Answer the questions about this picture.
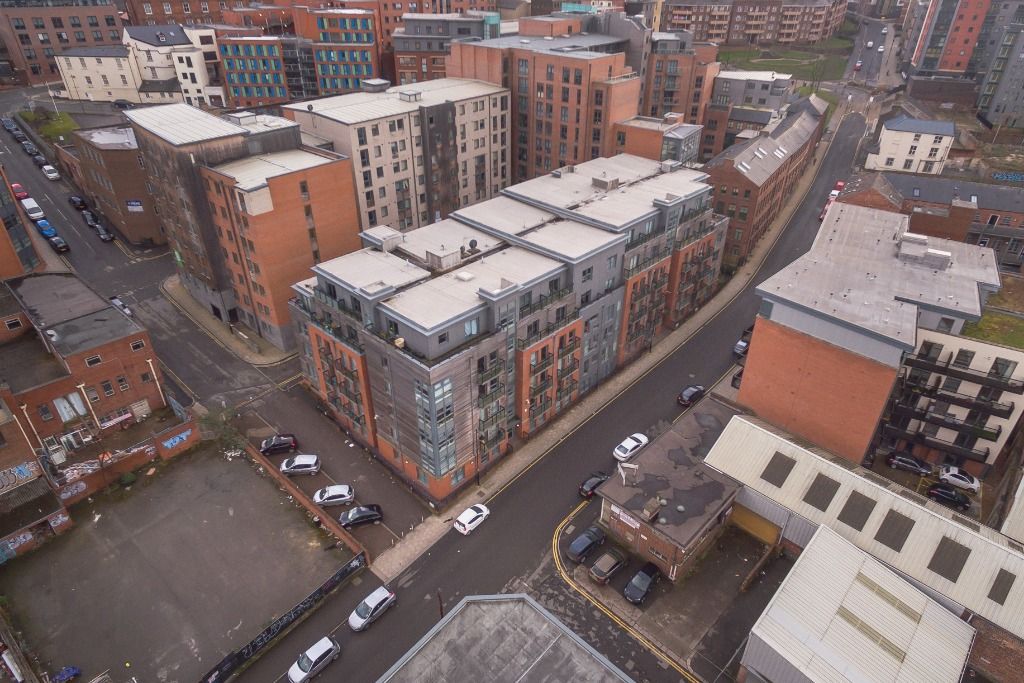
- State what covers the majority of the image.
buildings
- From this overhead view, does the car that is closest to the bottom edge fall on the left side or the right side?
left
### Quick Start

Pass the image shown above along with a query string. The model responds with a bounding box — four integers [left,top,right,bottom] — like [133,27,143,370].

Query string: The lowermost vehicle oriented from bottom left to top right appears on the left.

[284,636,342,683]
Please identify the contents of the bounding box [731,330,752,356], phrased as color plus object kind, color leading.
gray car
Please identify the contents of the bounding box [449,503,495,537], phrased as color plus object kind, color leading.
white car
